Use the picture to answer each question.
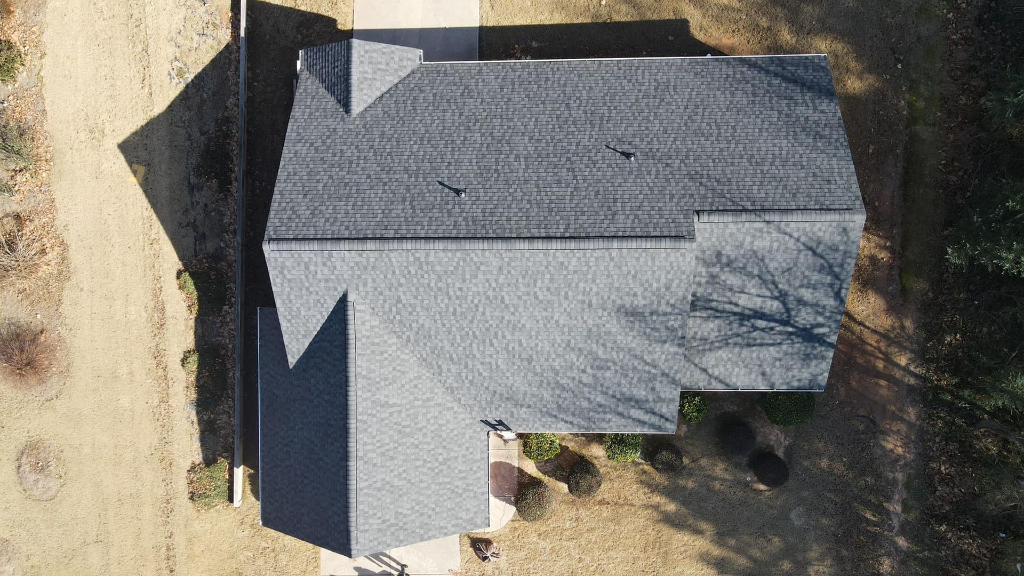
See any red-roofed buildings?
No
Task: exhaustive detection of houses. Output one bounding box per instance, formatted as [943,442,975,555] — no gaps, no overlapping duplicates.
[258,38,864,561]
